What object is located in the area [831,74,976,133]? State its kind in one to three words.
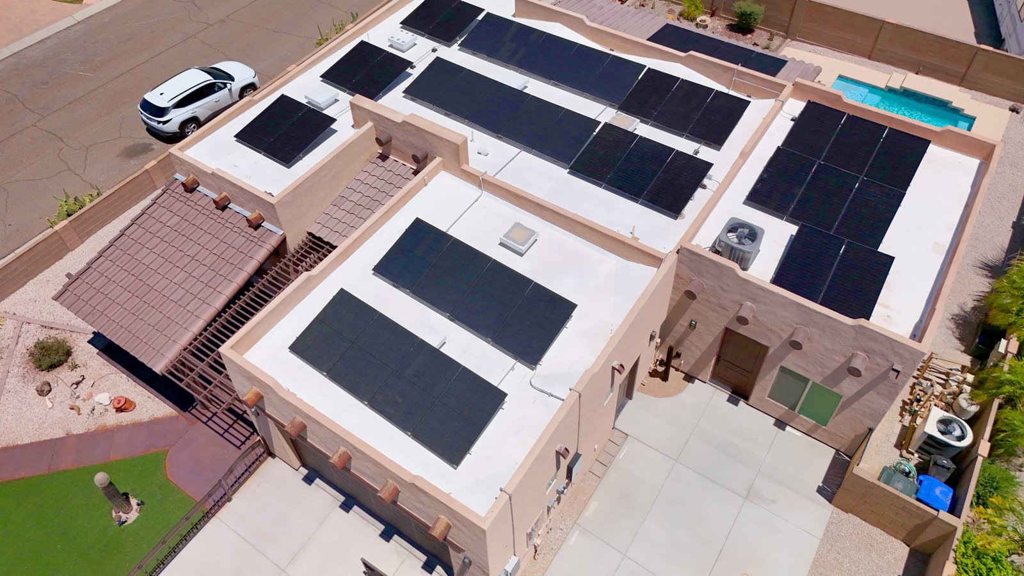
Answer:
swimming pool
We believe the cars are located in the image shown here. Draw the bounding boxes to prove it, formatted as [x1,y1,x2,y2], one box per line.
[136,60,261,141]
